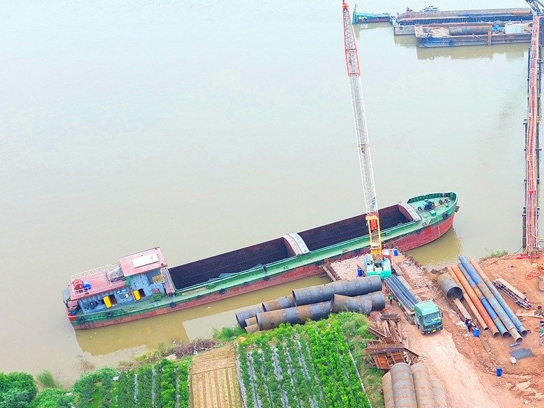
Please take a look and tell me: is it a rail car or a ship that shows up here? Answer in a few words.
ship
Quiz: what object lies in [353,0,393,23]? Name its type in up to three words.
boat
